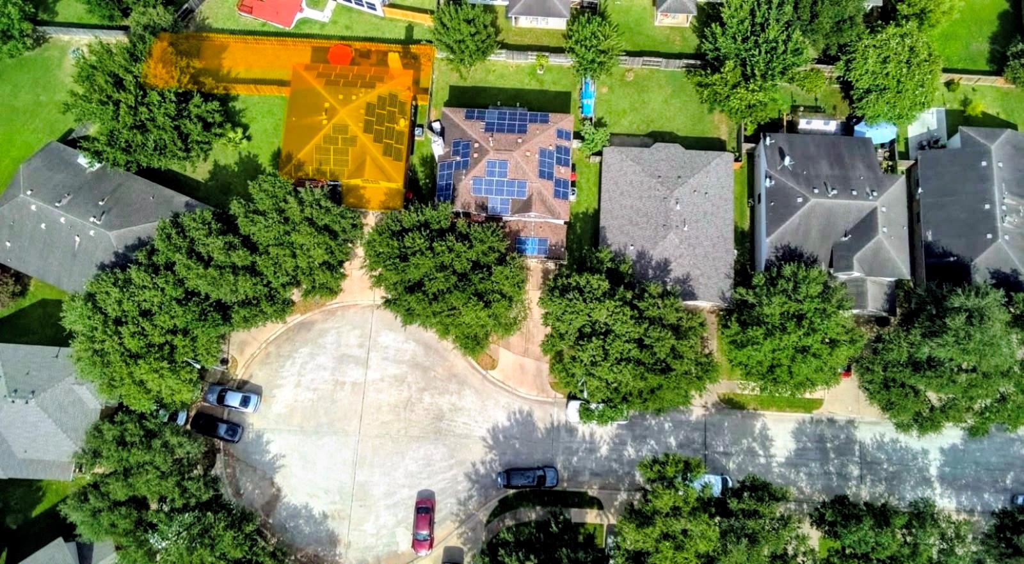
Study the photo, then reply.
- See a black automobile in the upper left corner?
No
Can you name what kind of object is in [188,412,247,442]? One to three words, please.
car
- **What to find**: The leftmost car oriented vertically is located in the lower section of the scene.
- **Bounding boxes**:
[409,495,436,557]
